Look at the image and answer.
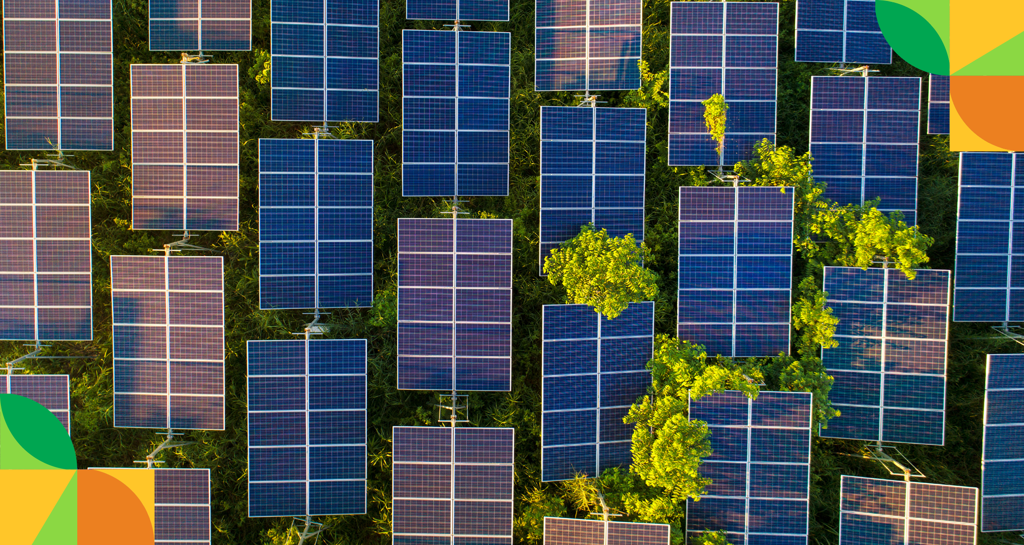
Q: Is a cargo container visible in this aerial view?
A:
No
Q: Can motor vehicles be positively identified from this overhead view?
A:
No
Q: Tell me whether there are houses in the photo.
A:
No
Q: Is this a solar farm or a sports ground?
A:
solar farm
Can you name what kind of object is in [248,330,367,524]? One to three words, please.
solar array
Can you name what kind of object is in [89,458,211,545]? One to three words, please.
solar array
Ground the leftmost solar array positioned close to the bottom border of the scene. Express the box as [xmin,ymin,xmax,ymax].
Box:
[0,364,73,545]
